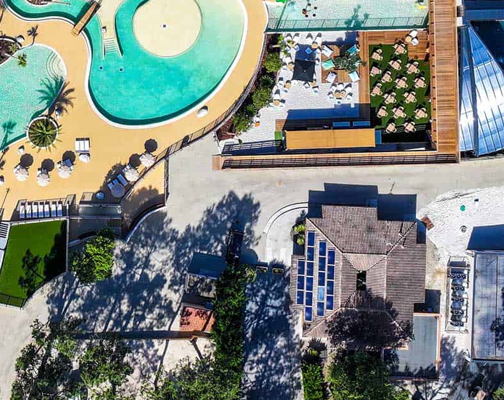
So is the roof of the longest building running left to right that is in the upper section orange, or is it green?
orange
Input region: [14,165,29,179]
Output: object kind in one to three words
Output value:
umbrella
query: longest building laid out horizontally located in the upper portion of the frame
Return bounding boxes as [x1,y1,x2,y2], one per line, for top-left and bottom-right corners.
[277,119,376,149]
